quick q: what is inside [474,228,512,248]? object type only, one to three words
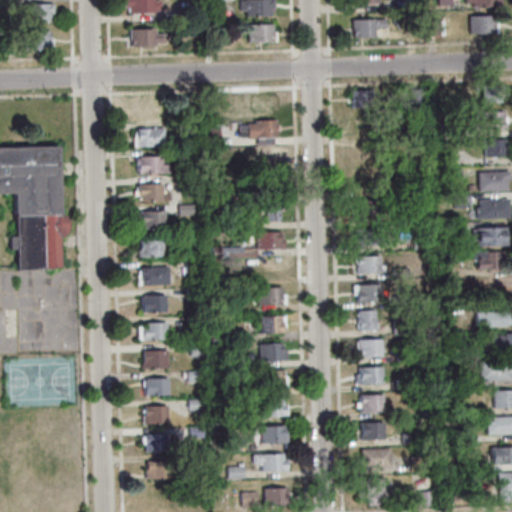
house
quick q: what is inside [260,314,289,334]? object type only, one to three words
house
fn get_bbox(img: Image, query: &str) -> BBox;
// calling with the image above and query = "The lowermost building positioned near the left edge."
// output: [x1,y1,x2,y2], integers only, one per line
[0,146,72,268]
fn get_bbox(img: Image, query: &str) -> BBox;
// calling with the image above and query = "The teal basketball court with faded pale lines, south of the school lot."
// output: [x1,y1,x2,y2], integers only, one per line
[4,357,74,405]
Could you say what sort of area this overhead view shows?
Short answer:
residential area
